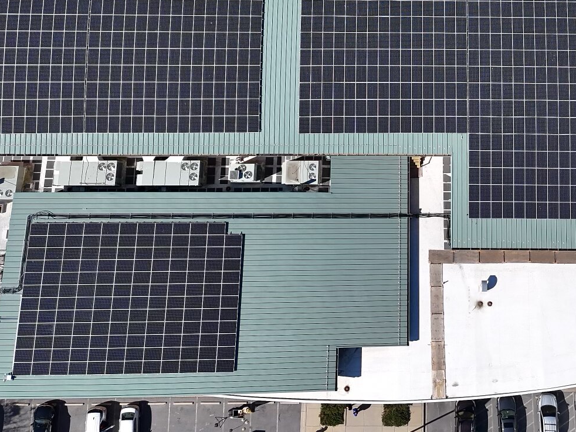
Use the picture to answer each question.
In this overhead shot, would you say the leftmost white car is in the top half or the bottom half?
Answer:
bottom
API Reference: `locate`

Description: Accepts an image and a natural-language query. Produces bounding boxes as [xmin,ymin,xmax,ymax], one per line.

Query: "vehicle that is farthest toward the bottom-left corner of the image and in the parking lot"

[30,404,57,432]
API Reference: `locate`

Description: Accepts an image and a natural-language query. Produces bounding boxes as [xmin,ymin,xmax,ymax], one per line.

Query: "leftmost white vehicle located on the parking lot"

[81,407,112,432]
